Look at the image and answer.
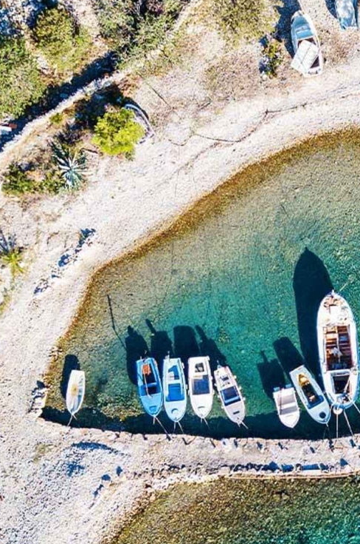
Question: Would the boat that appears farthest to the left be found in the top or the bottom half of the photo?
bottom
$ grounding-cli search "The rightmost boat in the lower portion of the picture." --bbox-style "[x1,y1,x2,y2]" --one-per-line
[314,272,360,441]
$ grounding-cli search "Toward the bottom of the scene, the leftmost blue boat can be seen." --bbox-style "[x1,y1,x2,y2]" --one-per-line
[133,354,171,441]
